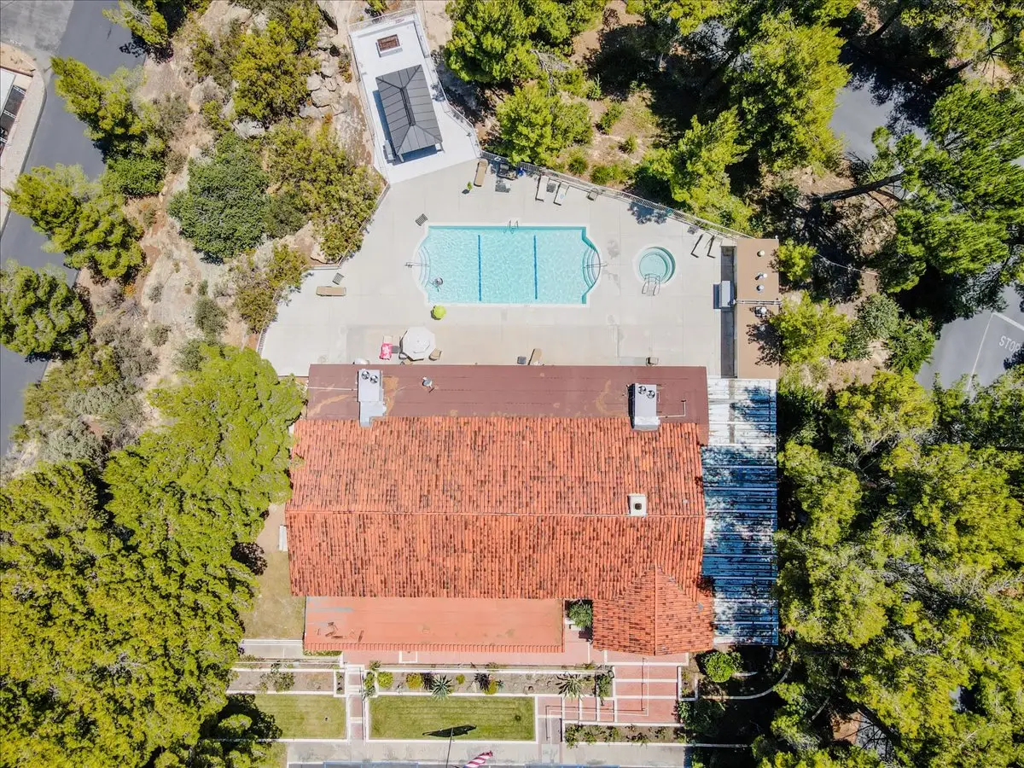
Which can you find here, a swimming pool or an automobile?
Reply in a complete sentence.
It is a swimming pool that can be seen here.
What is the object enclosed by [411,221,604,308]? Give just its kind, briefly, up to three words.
swimming pool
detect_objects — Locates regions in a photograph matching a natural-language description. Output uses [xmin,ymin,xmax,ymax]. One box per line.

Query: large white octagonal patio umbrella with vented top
[398,326,431,360]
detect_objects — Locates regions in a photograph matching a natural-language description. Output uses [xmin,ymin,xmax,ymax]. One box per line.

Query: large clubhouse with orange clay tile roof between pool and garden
[284,365,715,659]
